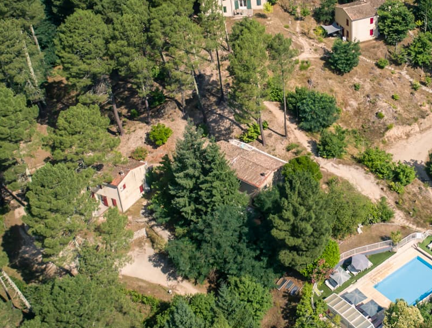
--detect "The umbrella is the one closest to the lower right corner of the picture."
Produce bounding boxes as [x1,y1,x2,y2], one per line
[361,294,383,315]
